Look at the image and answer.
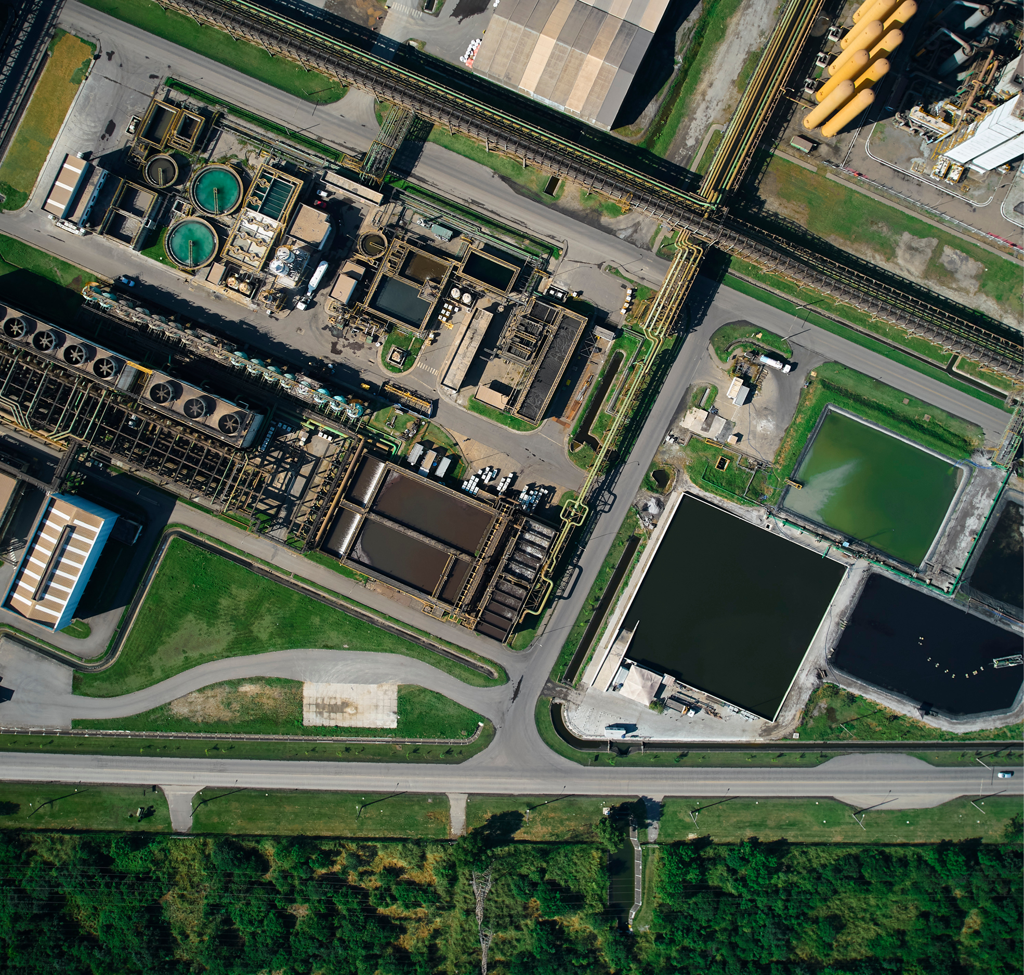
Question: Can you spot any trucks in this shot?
Yes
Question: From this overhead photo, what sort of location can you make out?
industrial area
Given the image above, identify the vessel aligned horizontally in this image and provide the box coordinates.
[989,652,1024,672]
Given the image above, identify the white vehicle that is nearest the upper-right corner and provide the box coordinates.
[759,355,792,373]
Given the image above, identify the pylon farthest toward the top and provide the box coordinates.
[473,862,491,928]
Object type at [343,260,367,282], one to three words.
shed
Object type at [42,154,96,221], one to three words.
building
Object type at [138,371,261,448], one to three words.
cooling tower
